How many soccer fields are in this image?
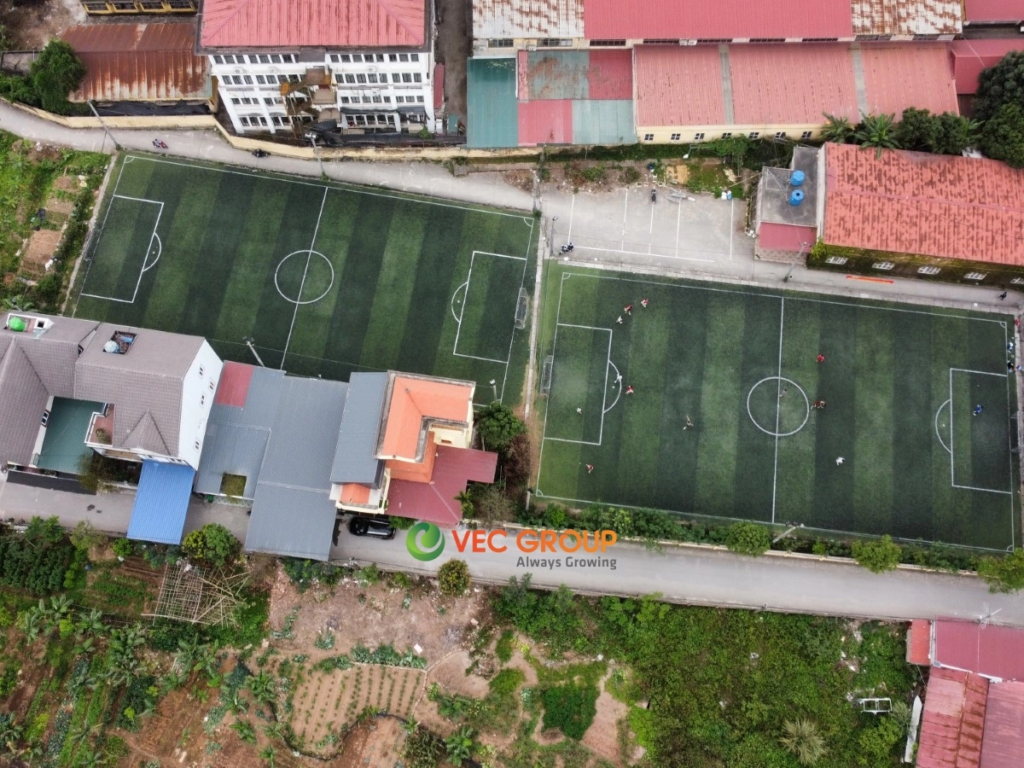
2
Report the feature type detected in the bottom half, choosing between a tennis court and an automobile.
automobile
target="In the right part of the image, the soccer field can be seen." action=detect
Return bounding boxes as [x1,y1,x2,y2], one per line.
[527,263,1021,555]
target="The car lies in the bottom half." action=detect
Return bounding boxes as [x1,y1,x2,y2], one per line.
[348,515,397,540]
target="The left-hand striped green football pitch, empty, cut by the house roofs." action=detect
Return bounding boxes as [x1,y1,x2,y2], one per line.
[70,153,540,417]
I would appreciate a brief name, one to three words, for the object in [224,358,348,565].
building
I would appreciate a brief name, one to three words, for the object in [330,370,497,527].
house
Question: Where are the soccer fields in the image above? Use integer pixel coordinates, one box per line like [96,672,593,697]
[527,263,1021,555]
[70,153,540,417]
